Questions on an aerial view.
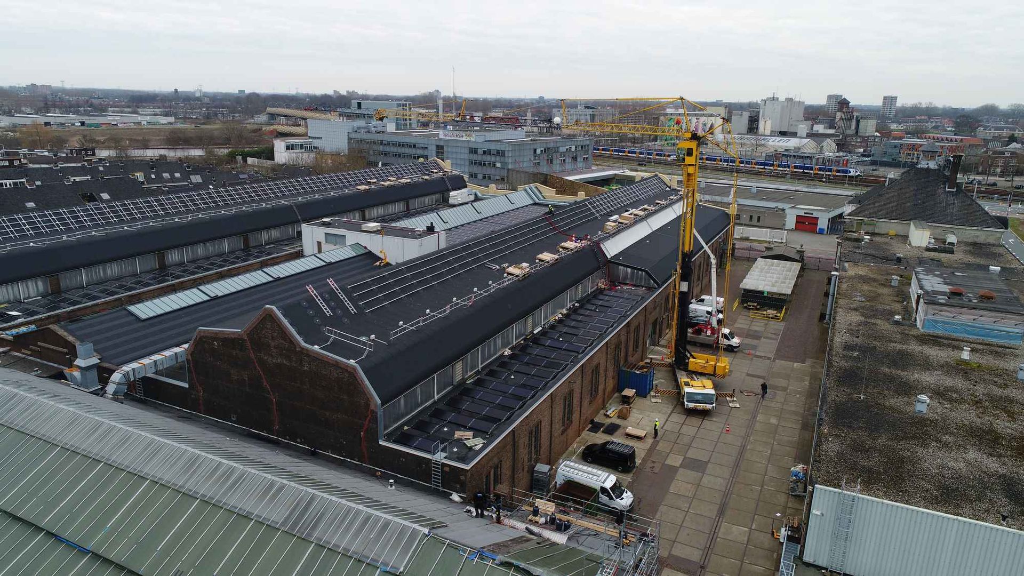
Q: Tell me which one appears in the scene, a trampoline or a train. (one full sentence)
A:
I can see a train in this picture.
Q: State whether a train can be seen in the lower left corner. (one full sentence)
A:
No, no train appears in the lower left corner.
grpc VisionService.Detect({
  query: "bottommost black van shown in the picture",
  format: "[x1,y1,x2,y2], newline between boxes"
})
[580,433,640,470]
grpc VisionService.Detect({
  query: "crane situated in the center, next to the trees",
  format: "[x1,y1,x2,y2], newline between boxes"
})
[306,93,743,414]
